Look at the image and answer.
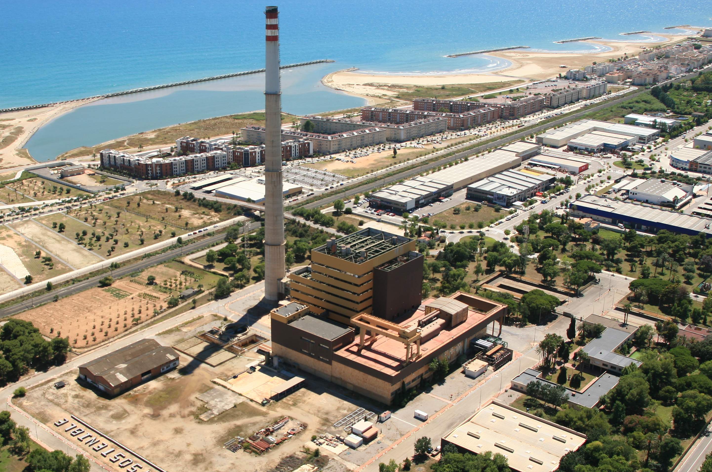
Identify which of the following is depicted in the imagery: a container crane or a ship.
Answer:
container crane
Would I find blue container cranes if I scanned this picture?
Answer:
No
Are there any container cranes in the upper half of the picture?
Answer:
No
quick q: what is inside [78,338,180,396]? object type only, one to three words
shed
